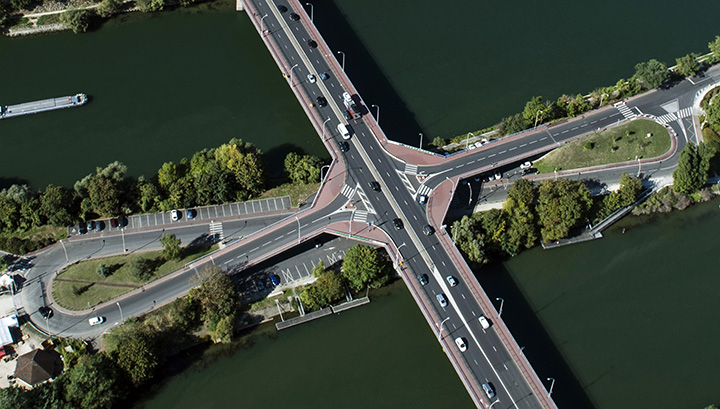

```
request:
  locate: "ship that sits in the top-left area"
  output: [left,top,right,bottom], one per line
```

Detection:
[0,95,87,121]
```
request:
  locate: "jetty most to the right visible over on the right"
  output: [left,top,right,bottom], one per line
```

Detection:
[541,190,653,250]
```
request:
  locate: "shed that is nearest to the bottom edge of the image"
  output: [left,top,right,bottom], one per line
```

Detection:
[14,349,53,387]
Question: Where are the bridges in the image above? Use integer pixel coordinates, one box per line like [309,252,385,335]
[240,0,560,409]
